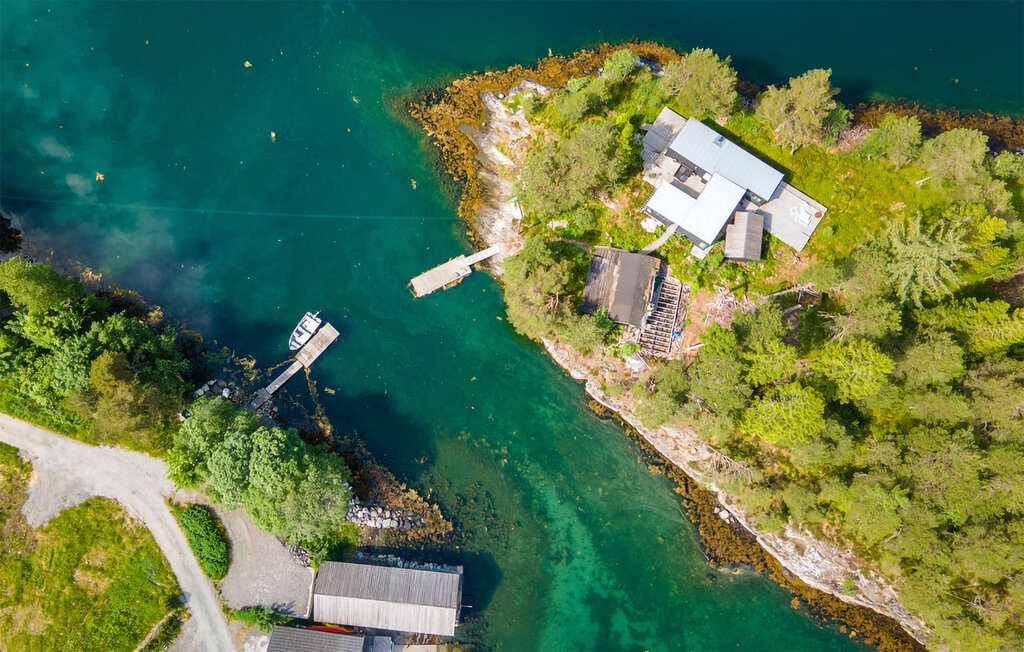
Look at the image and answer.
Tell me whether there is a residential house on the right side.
Yes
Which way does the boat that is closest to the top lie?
at an angle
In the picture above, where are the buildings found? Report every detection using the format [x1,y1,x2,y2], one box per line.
[267,622,364,652]
[314,555,473,635]
[583,247,660,327]
[632,116,786,247]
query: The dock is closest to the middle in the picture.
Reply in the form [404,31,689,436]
[411,244,501,297]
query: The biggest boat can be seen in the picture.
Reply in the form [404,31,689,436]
[288,312,321,351]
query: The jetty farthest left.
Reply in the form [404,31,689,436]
[266,322,340,394]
